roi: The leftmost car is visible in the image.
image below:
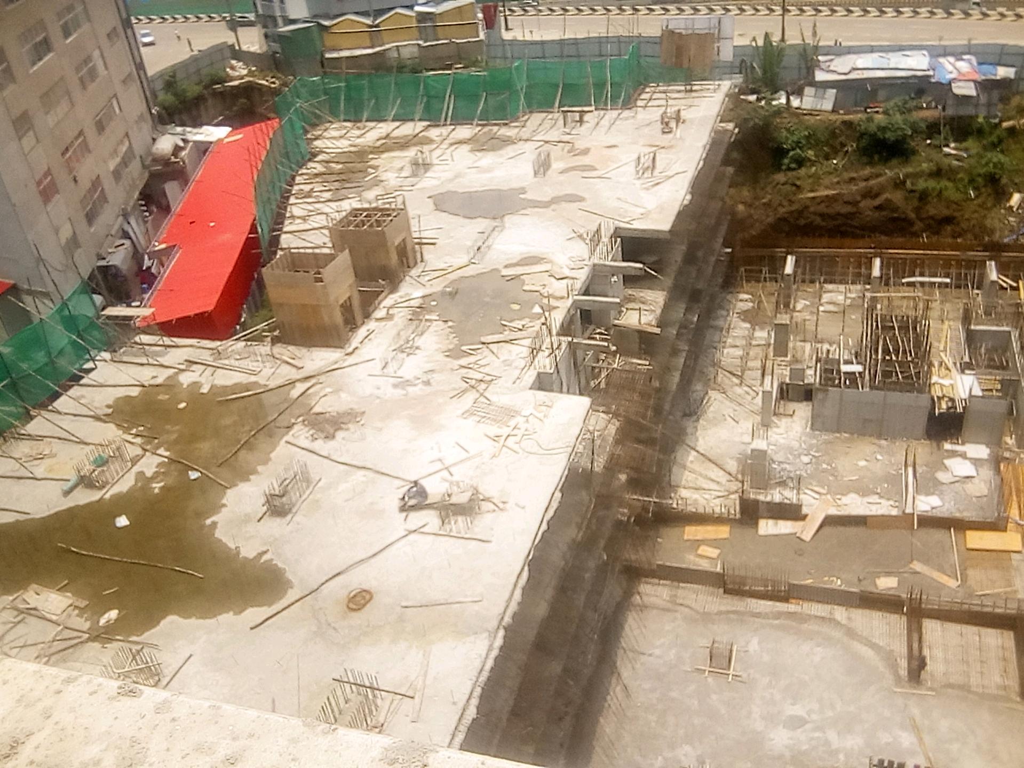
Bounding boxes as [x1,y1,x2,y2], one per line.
[138,32,154,47]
